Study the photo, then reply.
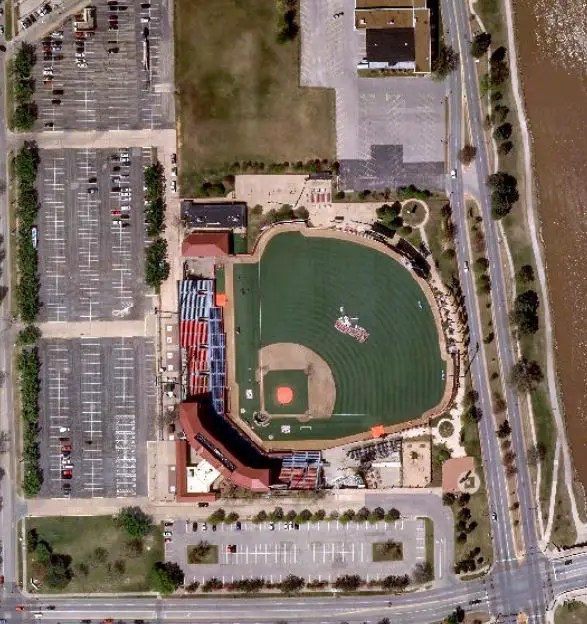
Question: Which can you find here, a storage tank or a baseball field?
baseball field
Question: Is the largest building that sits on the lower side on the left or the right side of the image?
left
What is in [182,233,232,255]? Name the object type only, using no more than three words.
building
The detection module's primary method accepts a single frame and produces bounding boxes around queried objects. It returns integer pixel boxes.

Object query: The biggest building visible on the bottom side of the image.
[177,441,224,503]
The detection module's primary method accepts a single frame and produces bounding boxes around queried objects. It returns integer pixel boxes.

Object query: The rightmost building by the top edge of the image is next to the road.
[355,0,435,73]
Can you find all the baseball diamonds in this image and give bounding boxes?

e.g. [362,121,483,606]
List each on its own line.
[216,222,454,450]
